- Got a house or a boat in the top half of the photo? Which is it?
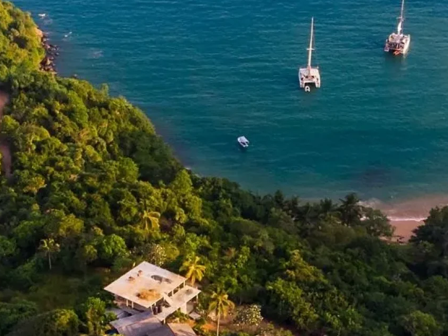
boat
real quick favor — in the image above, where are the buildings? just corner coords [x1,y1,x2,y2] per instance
[148,323,196,336]
[104,262,200,323]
